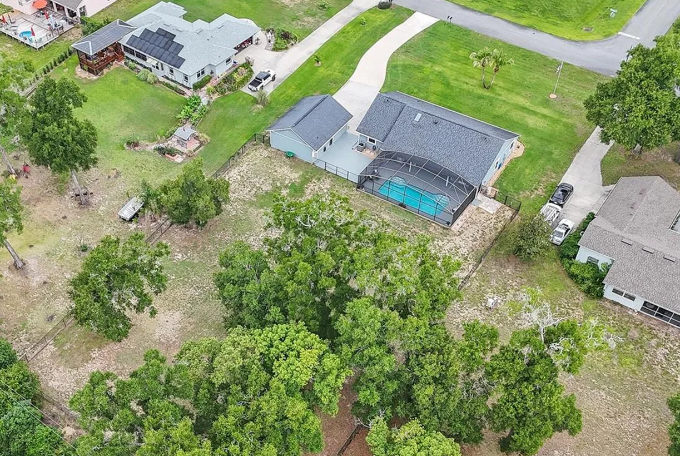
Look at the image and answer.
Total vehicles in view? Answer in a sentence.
My tally gives 4 vehicles in this view.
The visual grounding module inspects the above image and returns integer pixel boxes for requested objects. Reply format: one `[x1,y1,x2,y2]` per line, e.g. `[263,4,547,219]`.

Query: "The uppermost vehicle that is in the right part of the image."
[551,179,573,209]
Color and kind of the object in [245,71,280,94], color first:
white truck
